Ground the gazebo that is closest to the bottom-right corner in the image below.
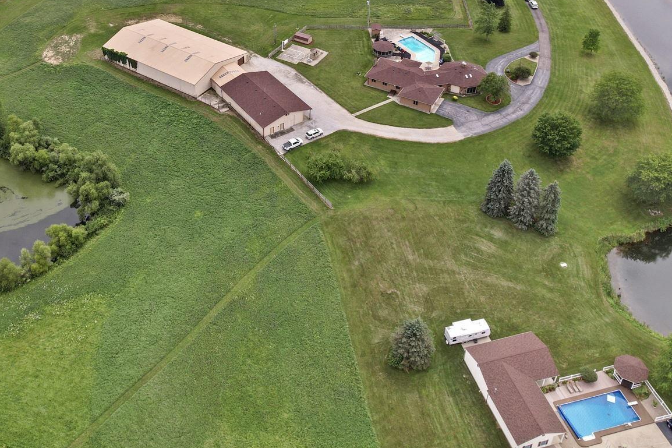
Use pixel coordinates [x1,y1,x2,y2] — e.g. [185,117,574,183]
[613,356,650,392]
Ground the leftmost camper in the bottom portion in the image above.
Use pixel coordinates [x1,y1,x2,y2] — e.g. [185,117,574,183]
[446,316,491,343]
